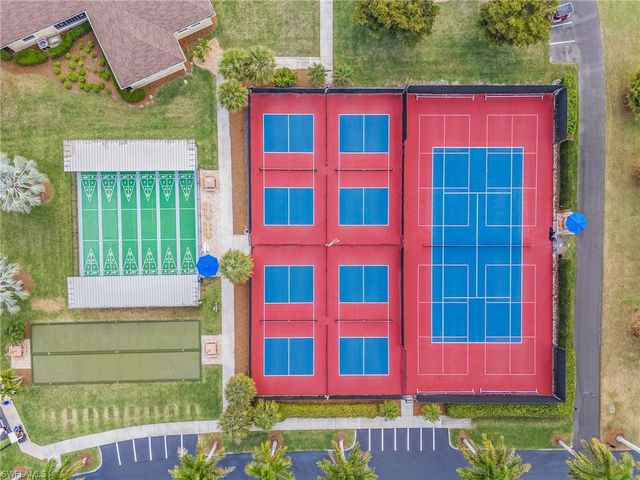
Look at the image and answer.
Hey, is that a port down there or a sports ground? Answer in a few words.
sports ground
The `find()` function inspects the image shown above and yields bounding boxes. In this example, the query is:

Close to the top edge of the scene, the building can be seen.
[0,0,218,91]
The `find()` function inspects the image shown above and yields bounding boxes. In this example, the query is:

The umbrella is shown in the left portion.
[196,254,219,277]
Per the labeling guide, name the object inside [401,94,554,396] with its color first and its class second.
red tennis court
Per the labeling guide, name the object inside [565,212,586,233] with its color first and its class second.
blue umbrella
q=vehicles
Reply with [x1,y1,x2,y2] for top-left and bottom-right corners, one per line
[548,2,576,24]
[0,419,16,436]
[8,424,31,442]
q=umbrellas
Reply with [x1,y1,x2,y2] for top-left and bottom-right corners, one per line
[565,212,586,233]
[196,254,219,277]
